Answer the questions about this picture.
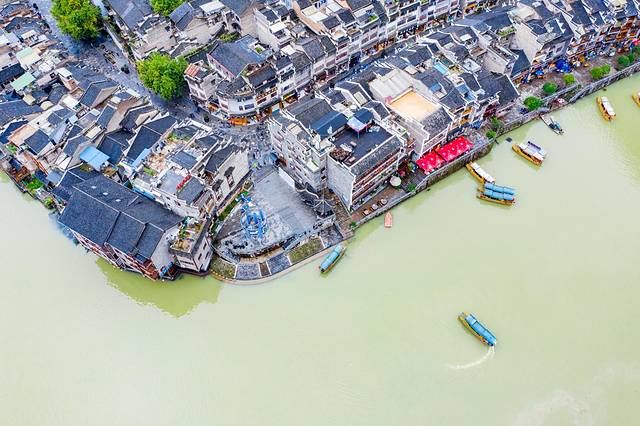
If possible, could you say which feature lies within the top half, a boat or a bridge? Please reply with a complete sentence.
You can see a boat within the top half.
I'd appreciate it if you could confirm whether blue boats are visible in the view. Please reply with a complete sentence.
Yes, the picture does show a blue boat.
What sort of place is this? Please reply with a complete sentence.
It's a residential area.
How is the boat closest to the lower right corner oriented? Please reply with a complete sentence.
What the image shows is the boat closest to the lower right corner lying on a diagonal.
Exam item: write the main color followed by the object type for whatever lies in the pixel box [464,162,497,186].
white boat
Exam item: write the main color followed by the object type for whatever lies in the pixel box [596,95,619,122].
white boat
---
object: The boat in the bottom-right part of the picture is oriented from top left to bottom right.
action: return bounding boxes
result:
[459,315,498,349]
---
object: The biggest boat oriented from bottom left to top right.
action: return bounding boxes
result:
[319,244,347,274]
